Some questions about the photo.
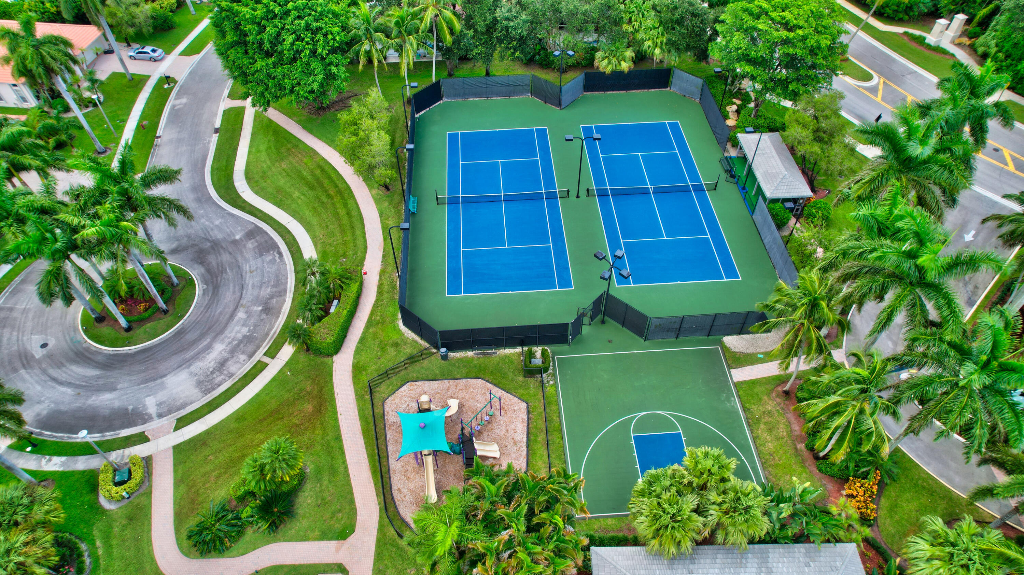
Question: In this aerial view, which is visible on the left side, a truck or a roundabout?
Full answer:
The one visible on the left side is a roundabout.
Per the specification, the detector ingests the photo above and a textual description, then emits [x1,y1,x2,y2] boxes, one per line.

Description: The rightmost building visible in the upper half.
[736,132,813,216]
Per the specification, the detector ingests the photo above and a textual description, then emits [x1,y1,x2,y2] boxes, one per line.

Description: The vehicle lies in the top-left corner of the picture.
[125,44,165,62]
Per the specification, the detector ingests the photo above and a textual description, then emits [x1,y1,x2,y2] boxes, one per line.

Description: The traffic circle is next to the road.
[77,262,199,349]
